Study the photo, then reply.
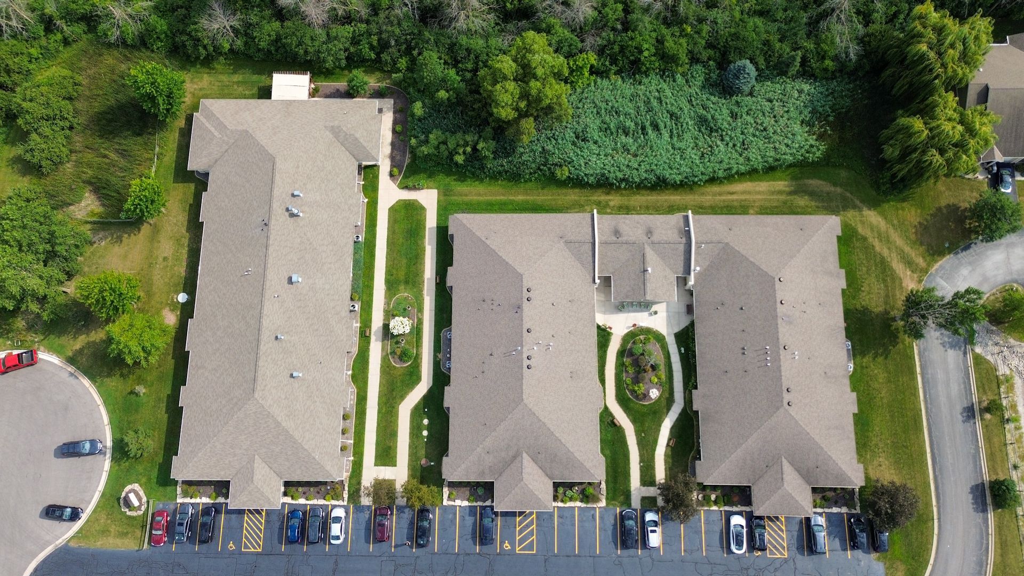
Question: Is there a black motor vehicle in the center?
No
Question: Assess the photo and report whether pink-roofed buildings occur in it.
No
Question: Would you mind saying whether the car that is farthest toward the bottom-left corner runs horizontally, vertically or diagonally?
horizontally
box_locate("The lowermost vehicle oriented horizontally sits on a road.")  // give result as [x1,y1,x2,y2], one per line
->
[44,503,86,523]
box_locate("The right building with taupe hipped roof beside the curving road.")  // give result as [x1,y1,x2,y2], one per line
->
[691,215,865,517]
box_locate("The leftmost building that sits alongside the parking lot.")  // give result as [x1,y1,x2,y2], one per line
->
[171,99,382,509]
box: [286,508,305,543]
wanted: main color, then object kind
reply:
blue car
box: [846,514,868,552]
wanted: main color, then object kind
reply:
black car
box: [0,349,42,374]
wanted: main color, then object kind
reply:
red truck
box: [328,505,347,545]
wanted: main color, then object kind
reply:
white car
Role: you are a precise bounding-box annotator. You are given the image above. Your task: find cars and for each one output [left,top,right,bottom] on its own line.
[749,515,769,552]
[148,509,171,547]
[44,503,86,523]
[328,505,347,545]
[197,505,218,544]
[994,164,1016,195]
[479,505,497,545]
[869,515,891,556]
[643,509,662,549]
[620,508,639,549]
[286,508,305,543]
[807,513,827,554]
[174,503,195,544]
[728,513,748,554]
[846,514,868,552]
[60,439,104,457]
[373,505,392,543]
[306,506,326,544]
[415,511,433,548]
